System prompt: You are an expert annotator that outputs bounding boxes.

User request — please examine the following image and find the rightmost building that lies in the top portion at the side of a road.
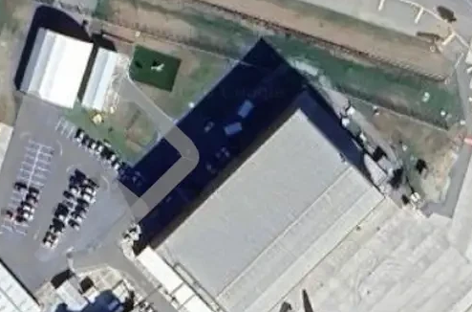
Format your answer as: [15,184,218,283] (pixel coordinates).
[82,49,116,109]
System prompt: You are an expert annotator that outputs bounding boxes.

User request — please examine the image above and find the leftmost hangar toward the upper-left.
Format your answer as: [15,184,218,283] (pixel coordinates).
[20,28,94,109]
